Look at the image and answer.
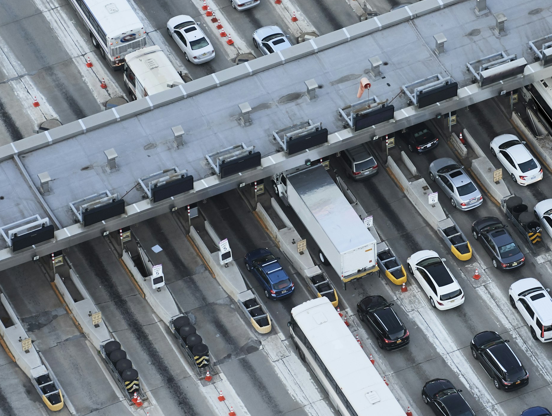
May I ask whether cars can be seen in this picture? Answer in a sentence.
Yes, a car is visible in the scene.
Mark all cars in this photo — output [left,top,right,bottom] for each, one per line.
[421,378,474,416]
[532,196,552,238]
[334,143,380,184]
[491,134,544,190]
[430,158,485,216]
[246,249,296,304]
[472,216,526,275]
[230,0,264,16]
[165,14,217,69]
[253,28,289,56]
[508,280,552,349]
[358,296,412,357]
[522,406,552,416]
[407,250,466,315]
[473,333,532,398]
[398,122,440,158]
